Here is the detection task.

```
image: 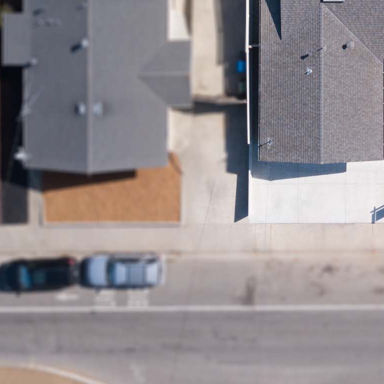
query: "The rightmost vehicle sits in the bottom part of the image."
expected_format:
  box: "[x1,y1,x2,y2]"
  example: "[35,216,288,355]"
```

[87,253,165,291]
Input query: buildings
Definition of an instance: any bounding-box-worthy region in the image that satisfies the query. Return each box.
[3,0,195,194]
[257,0,384,164]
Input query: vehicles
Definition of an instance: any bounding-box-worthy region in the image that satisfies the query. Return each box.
[87,253,165,291]
[1,256,77,296]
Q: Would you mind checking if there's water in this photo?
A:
No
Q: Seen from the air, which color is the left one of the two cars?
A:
black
